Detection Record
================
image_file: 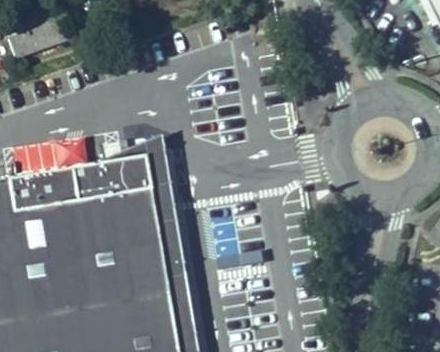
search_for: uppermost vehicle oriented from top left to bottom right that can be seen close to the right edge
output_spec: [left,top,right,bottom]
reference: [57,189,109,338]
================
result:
[402,9,422,33]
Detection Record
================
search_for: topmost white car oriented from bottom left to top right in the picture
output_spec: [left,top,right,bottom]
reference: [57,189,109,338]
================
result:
[375,10,396,32]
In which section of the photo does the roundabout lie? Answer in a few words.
right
